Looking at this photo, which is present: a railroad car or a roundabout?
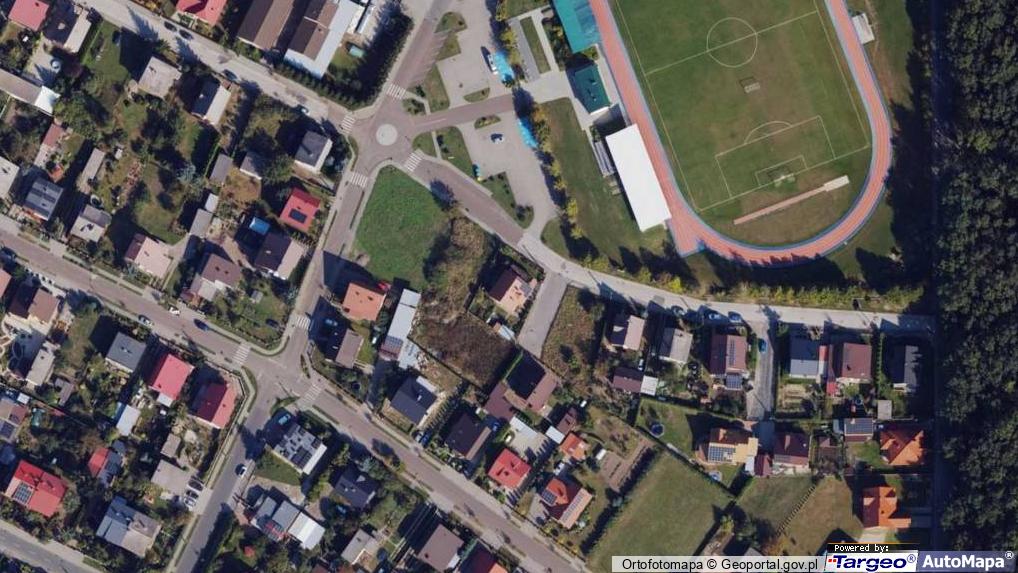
roundabout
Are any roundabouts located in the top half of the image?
Yes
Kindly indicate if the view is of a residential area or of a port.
residential area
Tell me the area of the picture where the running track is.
top right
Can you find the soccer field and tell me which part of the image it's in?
top right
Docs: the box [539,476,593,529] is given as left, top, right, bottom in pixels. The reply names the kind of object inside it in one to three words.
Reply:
house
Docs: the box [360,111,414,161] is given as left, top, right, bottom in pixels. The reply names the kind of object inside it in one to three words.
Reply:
roundabout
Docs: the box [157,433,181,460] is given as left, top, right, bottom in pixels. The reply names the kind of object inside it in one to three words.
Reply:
building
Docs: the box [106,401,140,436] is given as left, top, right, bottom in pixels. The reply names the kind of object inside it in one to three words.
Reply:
shed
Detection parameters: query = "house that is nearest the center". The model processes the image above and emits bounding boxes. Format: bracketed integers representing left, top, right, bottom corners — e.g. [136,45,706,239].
[487,265,535,310]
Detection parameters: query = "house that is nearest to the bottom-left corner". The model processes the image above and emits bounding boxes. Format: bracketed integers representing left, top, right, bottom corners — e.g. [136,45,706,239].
[2,459,69,517]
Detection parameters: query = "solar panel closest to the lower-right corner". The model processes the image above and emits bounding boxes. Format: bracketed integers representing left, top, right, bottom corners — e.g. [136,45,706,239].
[844,420,872,434]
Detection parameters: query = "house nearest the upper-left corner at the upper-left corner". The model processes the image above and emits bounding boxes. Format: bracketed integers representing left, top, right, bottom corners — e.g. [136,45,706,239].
[8,0,48,32]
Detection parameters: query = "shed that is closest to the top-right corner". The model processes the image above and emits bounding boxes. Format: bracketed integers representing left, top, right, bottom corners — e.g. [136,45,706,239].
[852,13,875,44]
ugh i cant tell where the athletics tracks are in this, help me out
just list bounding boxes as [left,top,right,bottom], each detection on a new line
[585,0,896,273]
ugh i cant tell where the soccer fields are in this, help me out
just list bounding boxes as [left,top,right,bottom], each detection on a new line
[608,0,872,249]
